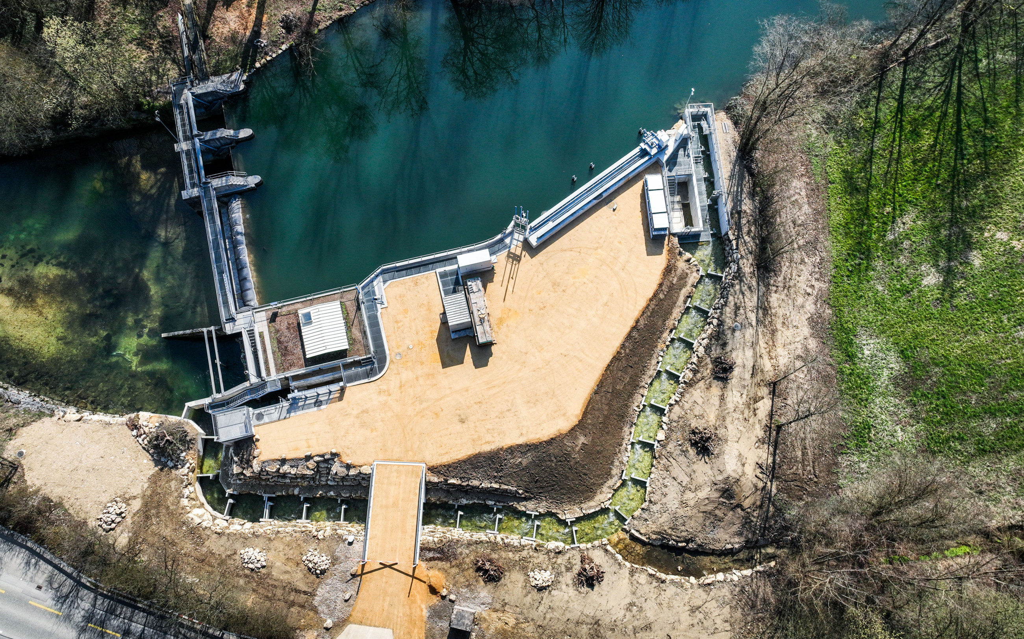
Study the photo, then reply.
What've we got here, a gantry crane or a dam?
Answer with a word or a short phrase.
dam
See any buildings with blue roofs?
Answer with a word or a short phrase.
No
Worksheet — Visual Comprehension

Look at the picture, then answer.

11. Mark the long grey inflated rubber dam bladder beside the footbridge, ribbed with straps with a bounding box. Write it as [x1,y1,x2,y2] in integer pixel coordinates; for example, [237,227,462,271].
[221,203,260,309]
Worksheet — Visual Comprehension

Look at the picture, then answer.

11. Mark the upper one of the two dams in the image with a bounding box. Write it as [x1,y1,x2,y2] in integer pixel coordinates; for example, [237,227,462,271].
[172,67,267,206]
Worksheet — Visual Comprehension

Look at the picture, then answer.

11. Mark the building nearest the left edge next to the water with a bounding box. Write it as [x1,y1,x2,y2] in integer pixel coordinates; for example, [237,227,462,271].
[298,301,350,359]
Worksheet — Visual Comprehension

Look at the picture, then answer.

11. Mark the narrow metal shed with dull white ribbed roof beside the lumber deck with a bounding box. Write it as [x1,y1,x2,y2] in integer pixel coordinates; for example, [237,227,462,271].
[443,292,473,340]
